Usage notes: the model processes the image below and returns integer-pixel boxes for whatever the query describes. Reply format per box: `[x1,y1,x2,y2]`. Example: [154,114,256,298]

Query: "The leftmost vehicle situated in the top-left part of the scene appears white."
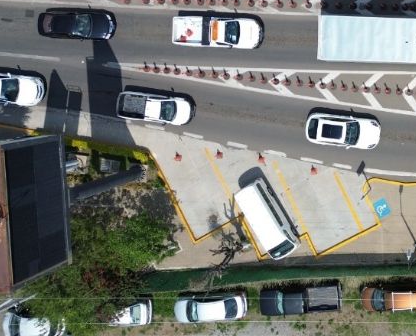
[0,70,48,108]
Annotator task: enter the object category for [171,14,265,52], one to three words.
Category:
truck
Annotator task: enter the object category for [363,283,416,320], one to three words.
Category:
car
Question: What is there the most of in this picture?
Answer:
paved ground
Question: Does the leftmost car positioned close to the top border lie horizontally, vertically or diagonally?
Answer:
horizontally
